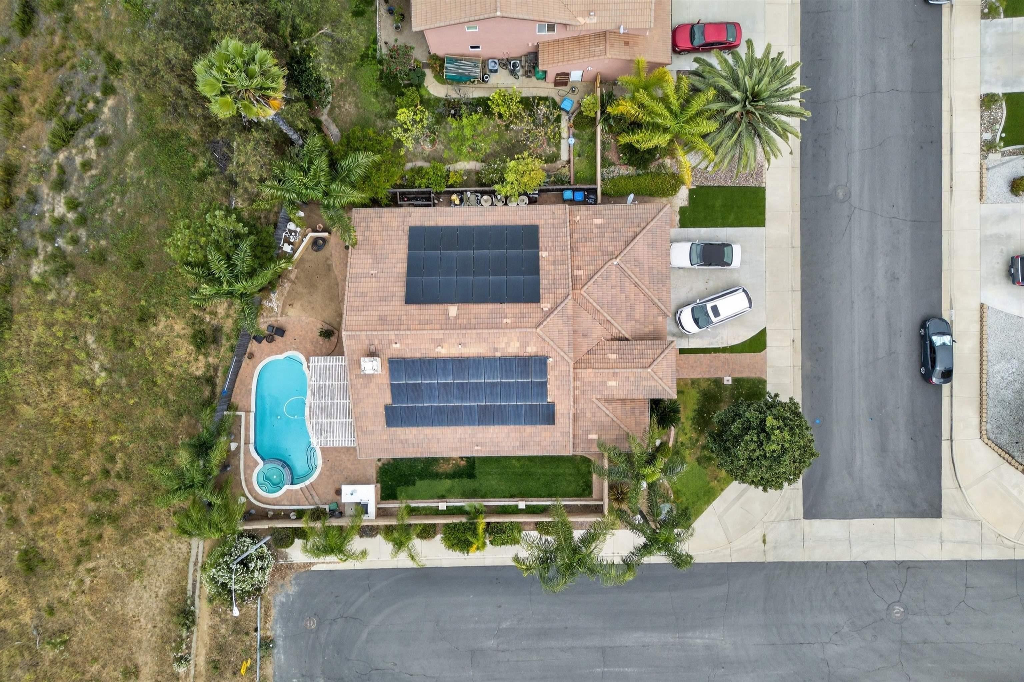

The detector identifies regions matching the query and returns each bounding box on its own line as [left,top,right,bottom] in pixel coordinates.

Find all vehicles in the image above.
[672,285,752,335]
[670,239,741,272]
[672,15,741,53]
[1005,256,1024,285]
[923,0,951,6]
[919,317,958,384]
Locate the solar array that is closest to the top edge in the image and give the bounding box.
[405,225,539,304]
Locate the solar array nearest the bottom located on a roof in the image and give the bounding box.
[385,357,555,427]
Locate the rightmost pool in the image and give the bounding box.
[249,352,322,498]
